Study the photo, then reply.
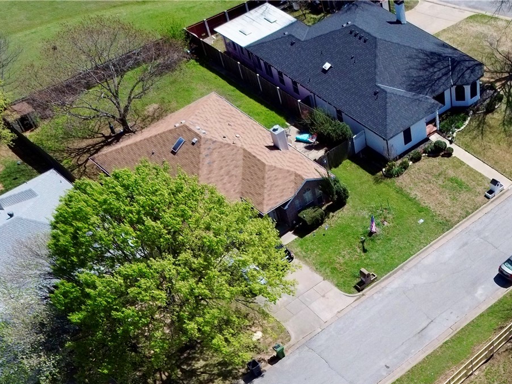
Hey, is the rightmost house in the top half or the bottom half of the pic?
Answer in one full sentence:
It is in the top half that the rightmost house appears.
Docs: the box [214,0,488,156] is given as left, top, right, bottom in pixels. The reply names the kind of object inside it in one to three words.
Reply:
house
